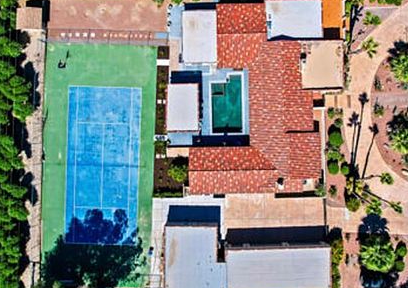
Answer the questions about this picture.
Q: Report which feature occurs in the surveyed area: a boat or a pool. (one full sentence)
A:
There is a pool in the scene.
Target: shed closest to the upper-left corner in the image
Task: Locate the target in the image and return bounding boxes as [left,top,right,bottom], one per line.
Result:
[17,7,49,32]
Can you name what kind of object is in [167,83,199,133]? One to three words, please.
building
